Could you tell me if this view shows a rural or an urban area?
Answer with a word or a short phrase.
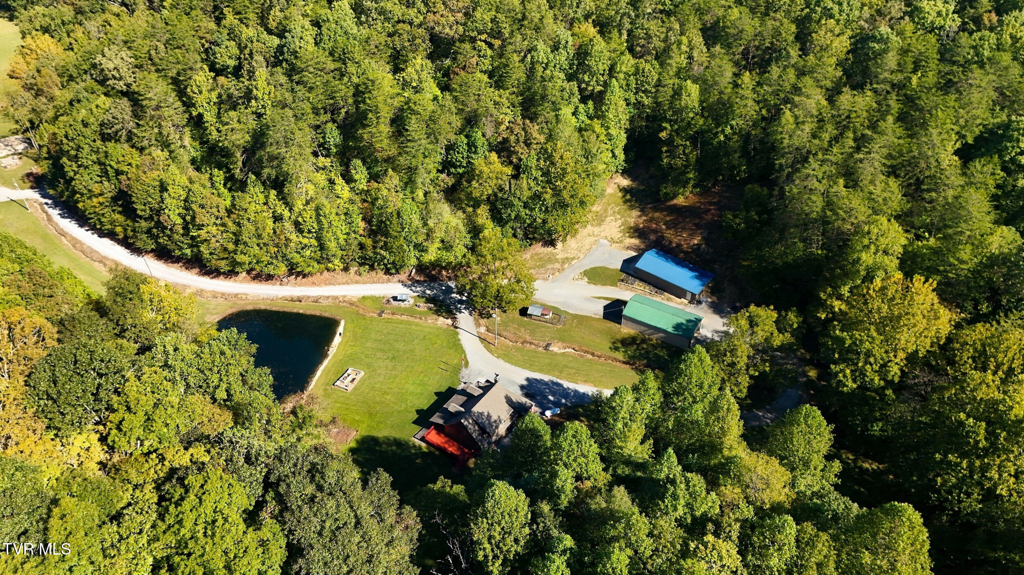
rural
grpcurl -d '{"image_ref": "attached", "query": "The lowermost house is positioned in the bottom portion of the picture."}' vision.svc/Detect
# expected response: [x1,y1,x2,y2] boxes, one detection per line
[424,373,535,472]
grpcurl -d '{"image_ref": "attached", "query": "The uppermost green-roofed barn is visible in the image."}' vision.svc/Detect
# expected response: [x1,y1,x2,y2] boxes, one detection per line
[620,293,704,347]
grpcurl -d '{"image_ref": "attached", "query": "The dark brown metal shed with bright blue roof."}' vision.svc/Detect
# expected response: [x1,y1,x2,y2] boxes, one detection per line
[635,248,717,305]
